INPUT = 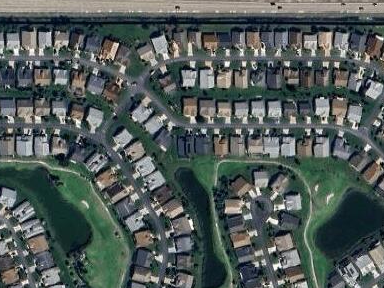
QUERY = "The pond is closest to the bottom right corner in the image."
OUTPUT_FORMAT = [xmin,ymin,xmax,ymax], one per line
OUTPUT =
[314,189,384,261]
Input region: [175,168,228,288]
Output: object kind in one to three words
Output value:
pond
